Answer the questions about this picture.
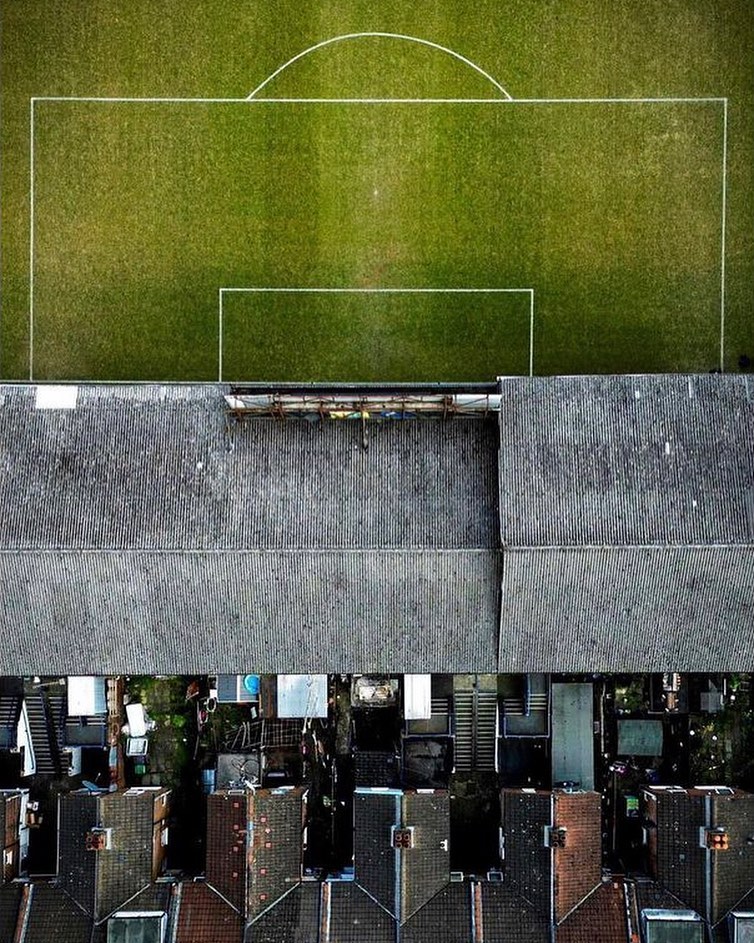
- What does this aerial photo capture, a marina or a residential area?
residential area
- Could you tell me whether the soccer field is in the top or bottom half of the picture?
top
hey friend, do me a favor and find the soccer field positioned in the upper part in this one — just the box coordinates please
[0,0,754,390]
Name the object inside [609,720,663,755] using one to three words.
shed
